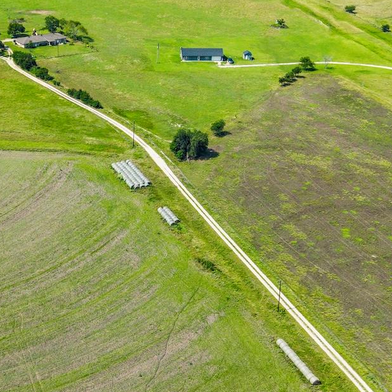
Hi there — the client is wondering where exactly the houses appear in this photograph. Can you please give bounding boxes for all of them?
[179,45,223,61]
[16,29,68,48]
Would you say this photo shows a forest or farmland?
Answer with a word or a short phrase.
farmland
